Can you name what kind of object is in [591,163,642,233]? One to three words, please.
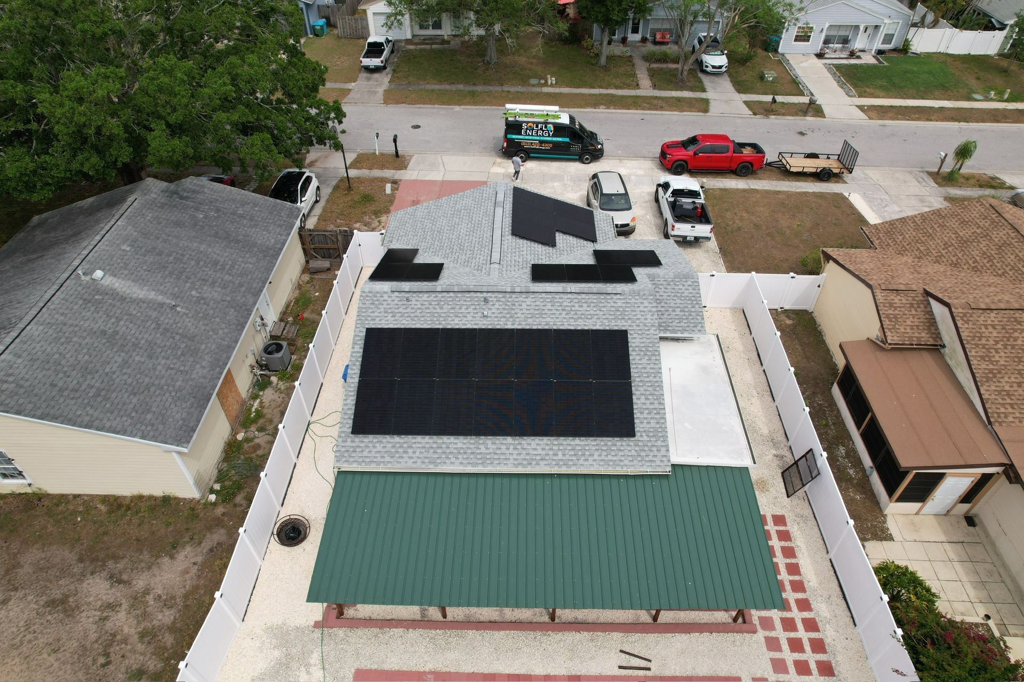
car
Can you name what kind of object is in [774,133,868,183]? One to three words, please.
trailer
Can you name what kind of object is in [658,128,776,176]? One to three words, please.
truck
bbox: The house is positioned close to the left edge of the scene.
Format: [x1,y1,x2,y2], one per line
[0,176,303,492]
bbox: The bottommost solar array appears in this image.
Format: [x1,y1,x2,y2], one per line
[352,327,634,437]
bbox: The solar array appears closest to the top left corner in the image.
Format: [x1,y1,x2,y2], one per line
[368,249,444,280]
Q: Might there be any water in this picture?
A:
No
